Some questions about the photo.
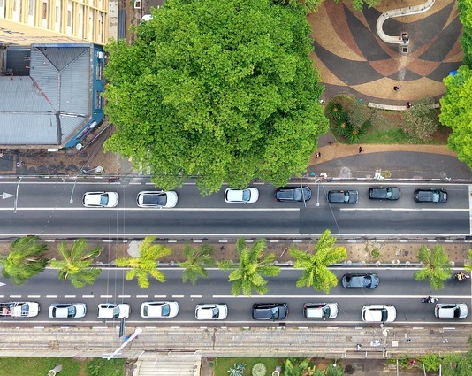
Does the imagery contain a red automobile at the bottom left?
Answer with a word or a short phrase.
No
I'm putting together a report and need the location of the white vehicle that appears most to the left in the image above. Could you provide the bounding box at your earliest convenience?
[0,299,42,321]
